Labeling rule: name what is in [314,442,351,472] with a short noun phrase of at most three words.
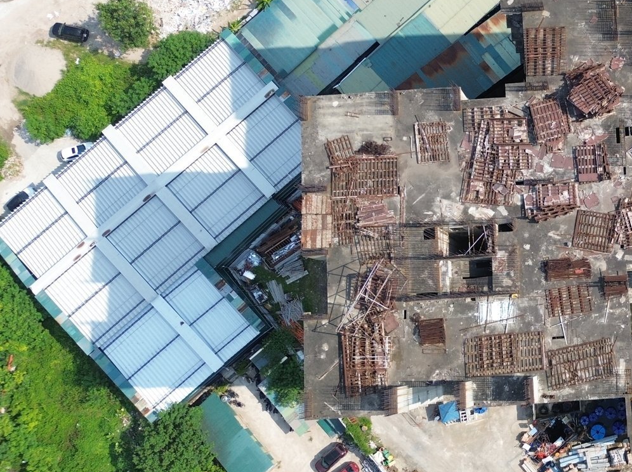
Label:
car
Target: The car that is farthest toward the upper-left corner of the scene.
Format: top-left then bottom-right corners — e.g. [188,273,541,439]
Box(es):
[51,23,92,44]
